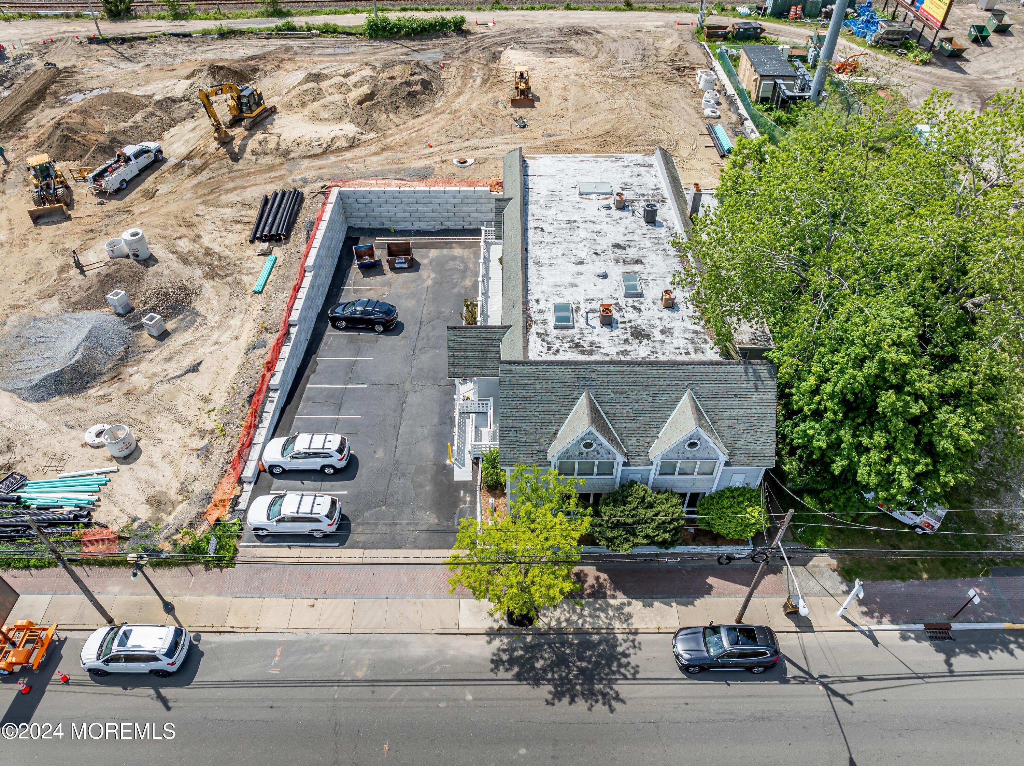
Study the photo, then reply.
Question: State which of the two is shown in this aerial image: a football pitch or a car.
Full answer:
Visible in the photo is a car.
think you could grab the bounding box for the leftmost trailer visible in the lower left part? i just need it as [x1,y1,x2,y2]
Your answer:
[0,577,55,678]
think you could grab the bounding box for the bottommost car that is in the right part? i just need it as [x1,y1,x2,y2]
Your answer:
[677,624,785,679]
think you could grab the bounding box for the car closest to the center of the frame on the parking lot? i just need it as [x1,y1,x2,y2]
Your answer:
[326,298,398,332]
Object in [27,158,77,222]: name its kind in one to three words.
work vehicle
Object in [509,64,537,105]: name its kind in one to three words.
work vehicle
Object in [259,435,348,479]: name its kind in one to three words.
car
